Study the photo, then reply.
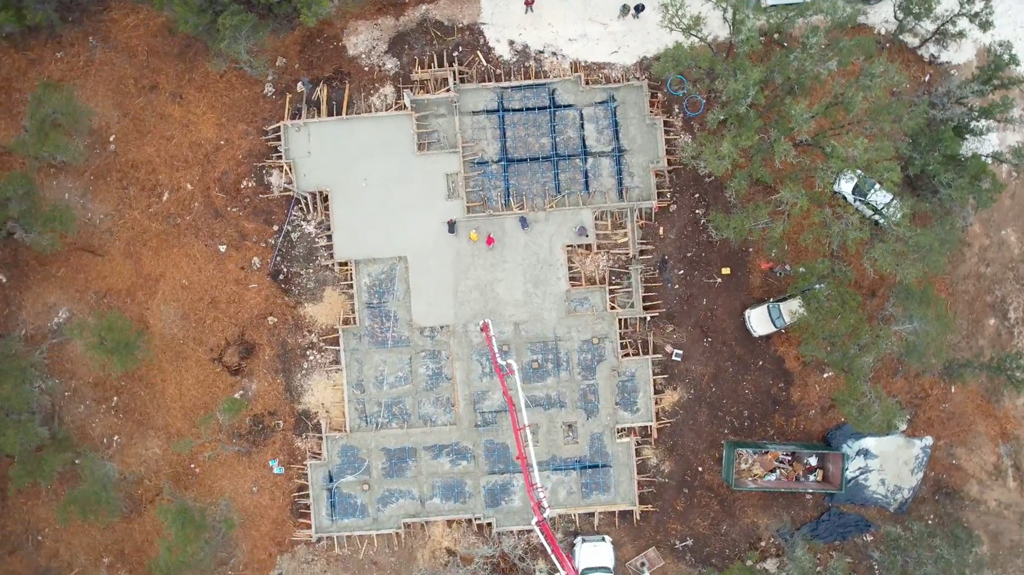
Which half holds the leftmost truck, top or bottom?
bottom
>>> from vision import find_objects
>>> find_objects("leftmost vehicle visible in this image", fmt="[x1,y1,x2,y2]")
[477,318,622,575]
